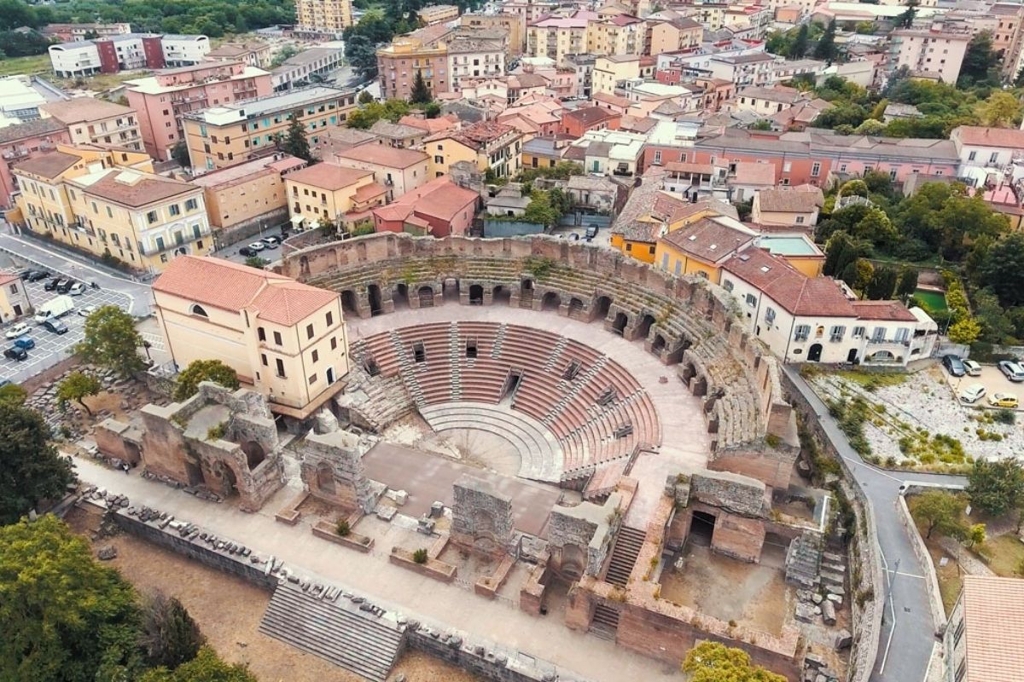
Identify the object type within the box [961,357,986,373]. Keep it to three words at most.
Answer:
car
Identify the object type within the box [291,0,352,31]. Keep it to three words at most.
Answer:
building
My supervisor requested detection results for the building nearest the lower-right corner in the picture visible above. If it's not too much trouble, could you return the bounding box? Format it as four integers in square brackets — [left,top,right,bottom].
[933,572,1024,682]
